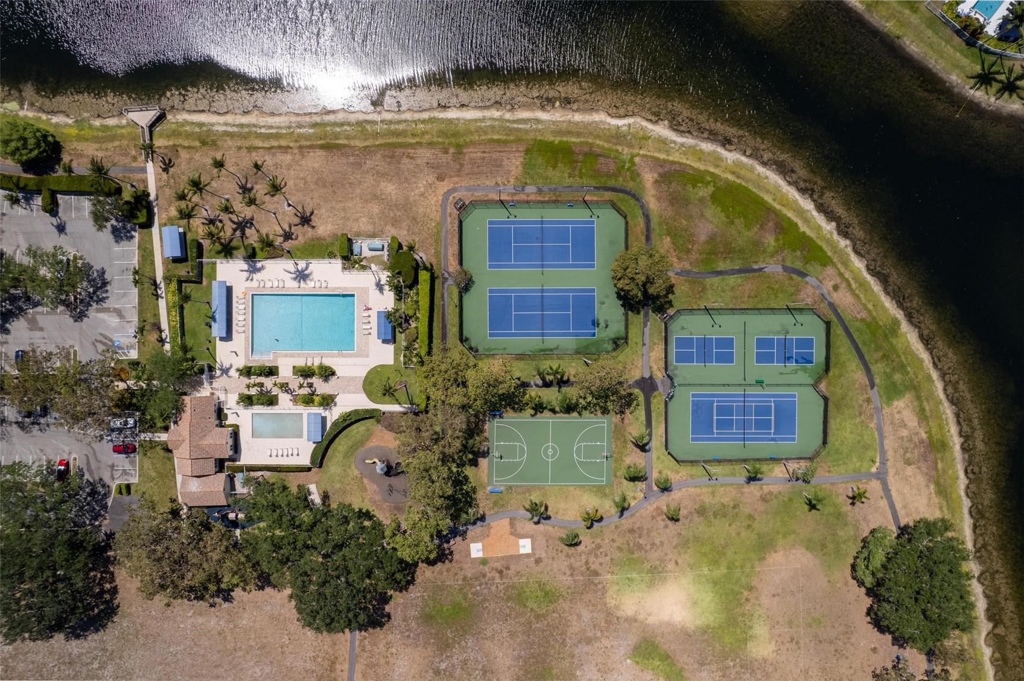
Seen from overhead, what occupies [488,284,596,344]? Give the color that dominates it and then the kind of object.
blue tennis court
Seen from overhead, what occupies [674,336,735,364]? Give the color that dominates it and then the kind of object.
blue sports court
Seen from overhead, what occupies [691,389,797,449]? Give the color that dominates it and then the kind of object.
blue tennis court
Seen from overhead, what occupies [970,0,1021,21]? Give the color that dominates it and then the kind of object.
blue swimming pool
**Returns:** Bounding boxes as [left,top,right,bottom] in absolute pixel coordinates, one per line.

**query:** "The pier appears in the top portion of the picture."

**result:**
[122,105,166,169]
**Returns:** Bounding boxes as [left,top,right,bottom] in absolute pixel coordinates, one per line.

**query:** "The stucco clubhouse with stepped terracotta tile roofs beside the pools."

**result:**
[164,396,233,507]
